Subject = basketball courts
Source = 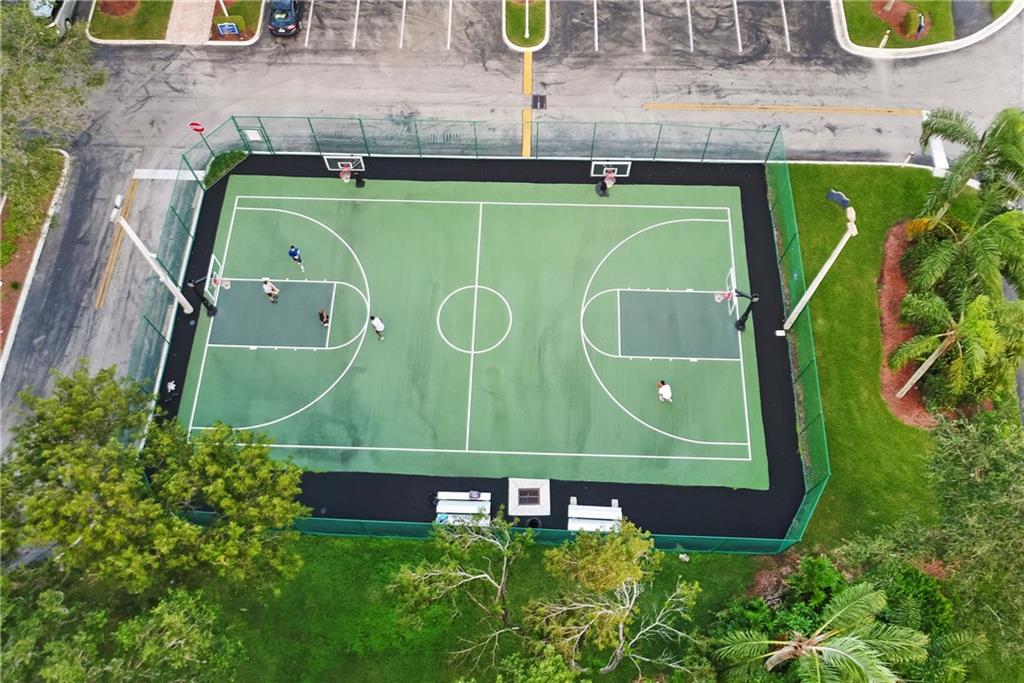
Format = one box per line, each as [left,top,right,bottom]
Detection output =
[135,156,803,551]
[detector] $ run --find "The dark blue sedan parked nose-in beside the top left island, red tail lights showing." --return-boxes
[268,0,306,34]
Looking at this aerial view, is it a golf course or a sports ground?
sports ground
